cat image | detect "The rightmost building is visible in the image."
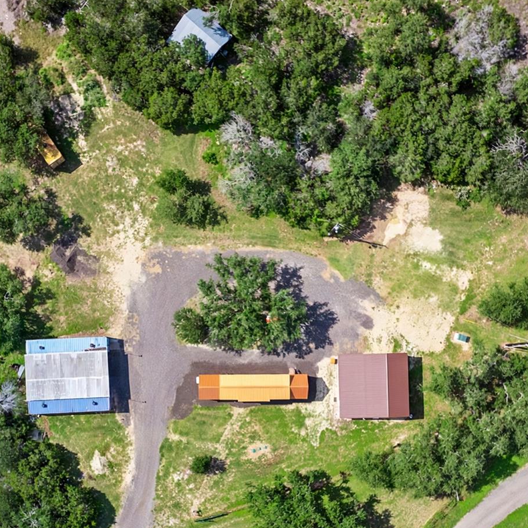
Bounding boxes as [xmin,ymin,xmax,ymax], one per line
[337,353,410,420]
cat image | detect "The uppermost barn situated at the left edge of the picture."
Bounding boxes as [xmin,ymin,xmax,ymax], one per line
[24,337,112,415]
